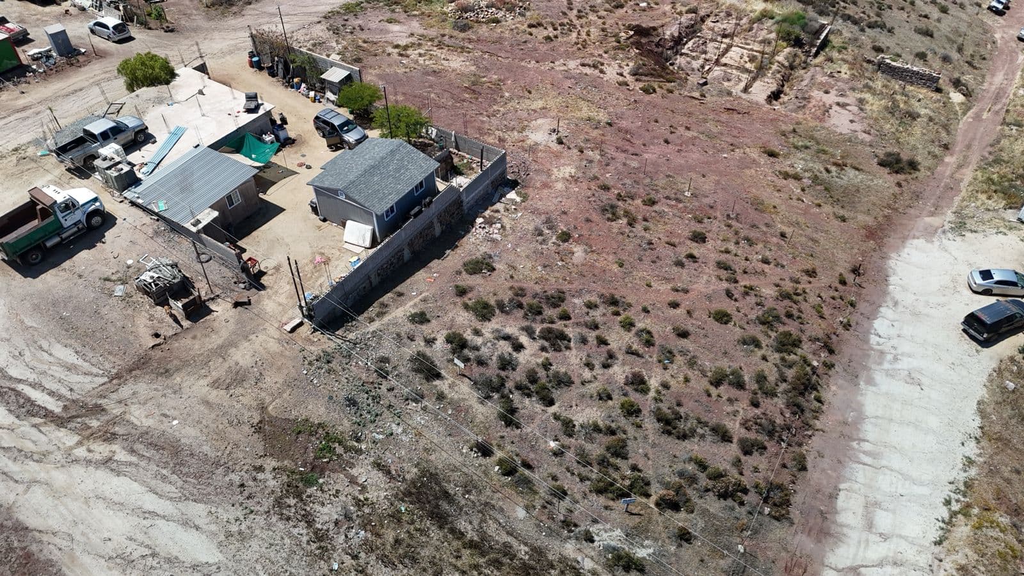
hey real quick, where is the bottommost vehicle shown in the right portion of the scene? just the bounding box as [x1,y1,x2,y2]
[968,294,1024,342]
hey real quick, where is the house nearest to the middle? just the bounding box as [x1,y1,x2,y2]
[308,138,441,241]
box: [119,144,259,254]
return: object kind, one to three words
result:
house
